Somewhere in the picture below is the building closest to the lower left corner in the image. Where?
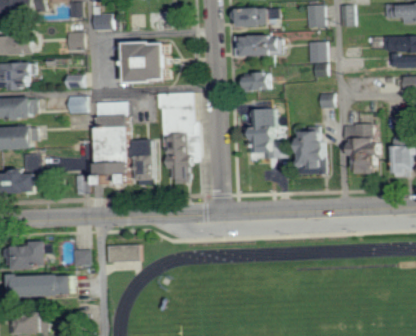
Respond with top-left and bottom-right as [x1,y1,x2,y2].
[9,312,52,336]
